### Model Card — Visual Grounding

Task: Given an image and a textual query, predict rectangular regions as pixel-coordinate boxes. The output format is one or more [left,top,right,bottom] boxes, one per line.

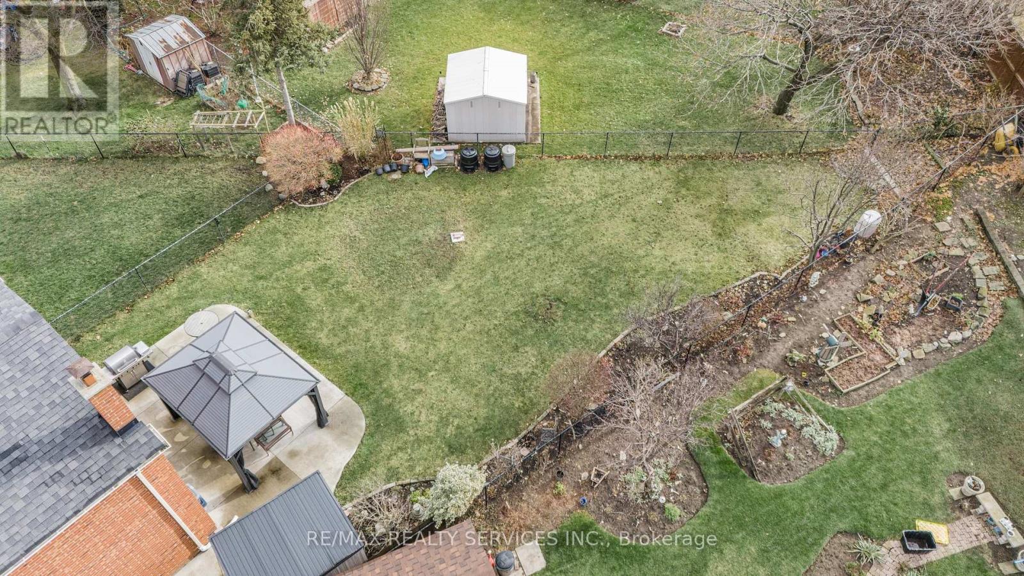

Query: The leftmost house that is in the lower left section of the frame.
[0,283,245,576]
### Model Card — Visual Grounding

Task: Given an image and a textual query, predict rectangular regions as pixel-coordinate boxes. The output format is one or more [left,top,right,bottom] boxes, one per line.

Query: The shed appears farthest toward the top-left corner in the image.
[126,16,208,93]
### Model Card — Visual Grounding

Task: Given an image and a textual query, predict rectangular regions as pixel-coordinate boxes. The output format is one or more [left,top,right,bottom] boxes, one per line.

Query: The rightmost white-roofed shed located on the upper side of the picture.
[443,43,529,141]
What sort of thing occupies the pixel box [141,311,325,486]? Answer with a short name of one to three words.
gazebo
